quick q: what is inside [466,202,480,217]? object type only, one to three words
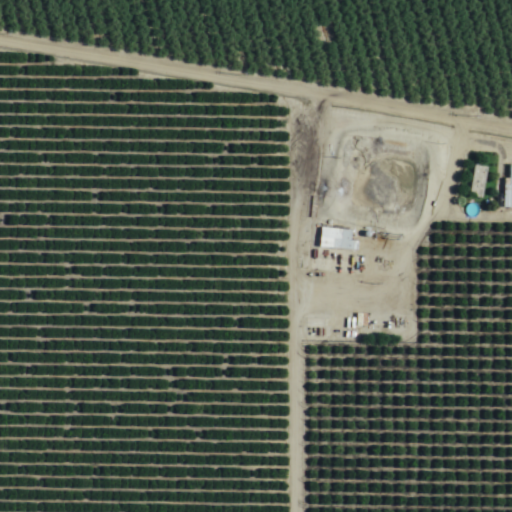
swimming pool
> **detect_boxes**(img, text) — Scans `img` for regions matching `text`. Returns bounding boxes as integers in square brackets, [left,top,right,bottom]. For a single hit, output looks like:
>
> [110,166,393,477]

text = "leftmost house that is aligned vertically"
[473,164,490,196]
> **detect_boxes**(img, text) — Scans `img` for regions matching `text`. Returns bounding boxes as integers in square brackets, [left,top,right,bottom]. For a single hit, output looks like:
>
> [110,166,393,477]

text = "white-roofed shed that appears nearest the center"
[321,227,359,250]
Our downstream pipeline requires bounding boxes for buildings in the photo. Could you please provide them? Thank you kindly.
[473,164,490,196]
[505,176,512,206]
[321,227,359,250]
